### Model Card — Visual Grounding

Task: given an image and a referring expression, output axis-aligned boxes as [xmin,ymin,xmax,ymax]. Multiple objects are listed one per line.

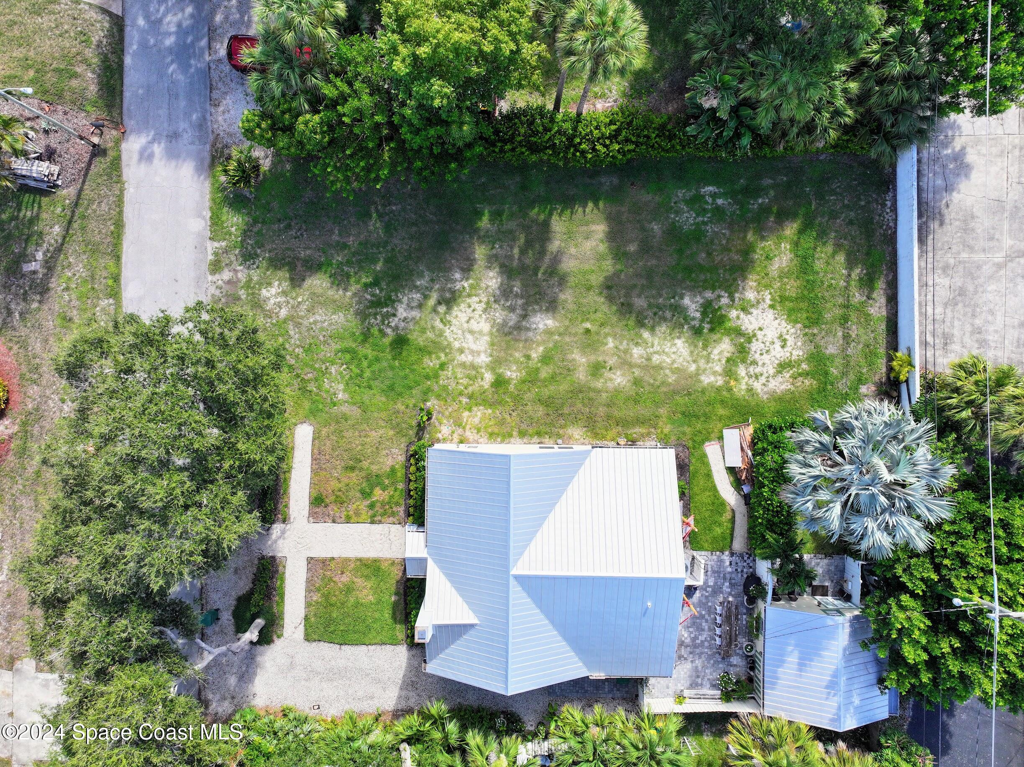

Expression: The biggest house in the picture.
[415,440,686,695]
